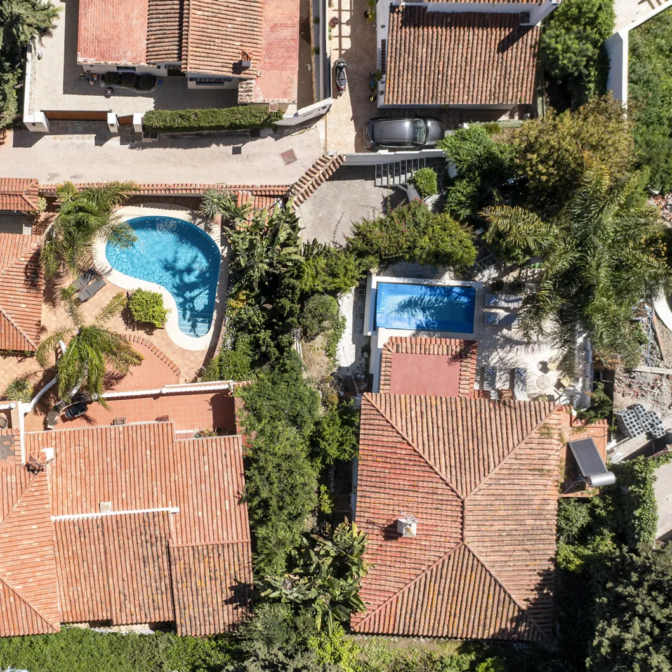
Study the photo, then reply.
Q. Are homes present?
Yes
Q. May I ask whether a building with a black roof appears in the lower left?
No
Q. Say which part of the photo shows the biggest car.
top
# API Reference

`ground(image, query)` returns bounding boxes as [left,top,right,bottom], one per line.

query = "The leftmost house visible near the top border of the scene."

[76,0,300,109]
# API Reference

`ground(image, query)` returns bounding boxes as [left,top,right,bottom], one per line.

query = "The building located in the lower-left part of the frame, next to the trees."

[0,419,255,638]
